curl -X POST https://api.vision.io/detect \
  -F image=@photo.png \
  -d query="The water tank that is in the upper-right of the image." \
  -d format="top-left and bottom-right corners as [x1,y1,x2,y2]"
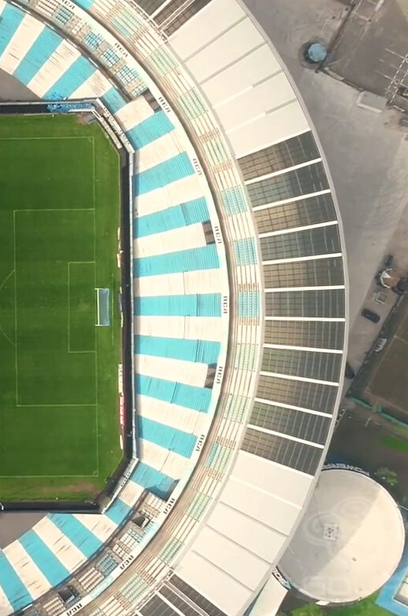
[297,42,326,68]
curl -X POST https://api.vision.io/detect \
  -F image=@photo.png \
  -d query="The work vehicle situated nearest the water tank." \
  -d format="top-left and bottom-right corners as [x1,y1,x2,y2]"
[388,89,408,101]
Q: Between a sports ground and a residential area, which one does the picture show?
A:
sports ground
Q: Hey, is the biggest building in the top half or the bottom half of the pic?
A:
bottom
